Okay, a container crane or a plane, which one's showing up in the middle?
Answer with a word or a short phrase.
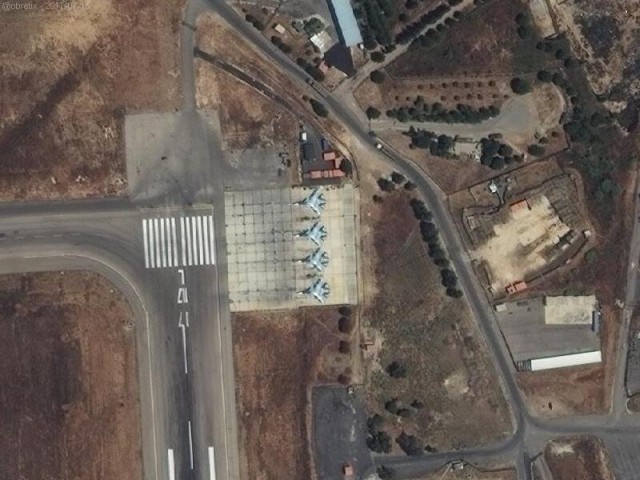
plane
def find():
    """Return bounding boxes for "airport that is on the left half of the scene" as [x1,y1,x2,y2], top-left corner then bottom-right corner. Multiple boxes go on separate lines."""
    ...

[0,0,358,480]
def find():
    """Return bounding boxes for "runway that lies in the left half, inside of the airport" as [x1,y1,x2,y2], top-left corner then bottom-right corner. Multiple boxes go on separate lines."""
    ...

[0,193,240,480]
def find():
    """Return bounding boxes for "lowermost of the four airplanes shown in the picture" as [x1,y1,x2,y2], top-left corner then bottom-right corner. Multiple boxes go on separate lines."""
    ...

[297,277,330,303]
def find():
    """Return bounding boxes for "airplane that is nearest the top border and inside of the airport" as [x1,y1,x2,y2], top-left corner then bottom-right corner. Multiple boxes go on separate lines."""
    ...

[294,188,328,214]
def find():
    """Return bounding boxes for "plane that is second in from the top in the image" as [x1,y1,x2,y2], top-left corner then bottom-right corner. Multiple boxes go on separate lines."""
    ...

[294,221,328,248]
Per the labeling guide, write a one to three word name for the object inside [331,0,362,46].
hangar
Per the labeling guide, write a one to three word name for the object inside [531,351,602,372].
shed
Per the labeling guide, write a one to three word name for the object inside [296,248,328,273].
airplane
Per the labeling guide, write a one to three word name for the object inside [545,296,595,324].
building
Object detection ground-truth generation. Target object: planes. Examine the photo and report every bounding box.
[297,277,330,303]
[294,188,328,214]
[294,221,328,248]
[296,248,328,273]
